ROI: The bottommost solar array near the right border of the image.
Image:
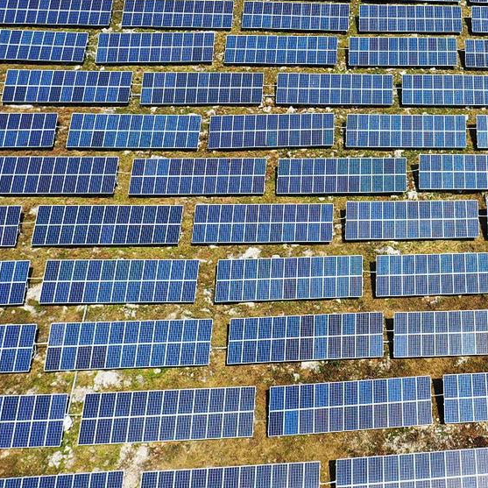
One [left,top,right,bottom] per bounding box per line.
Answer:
[336,449,488,488]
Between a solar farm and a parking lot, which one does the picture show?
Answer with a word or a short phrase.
solar farm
